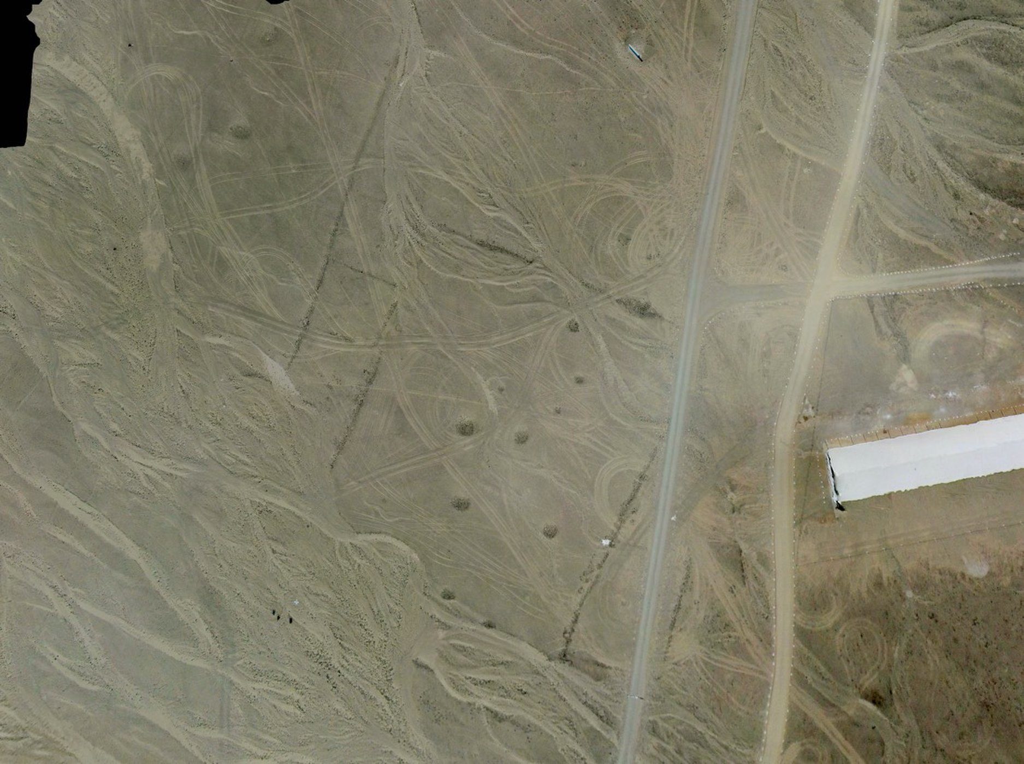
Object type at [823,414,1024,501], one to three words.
shed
